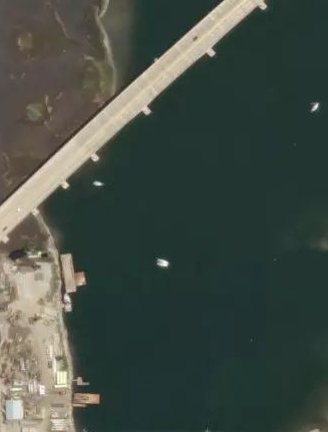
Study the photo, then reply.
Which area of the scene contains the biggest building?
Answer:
bottom left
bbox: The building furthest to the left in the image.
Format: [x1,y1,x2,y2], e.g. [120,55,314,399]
[4,399,27,423]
